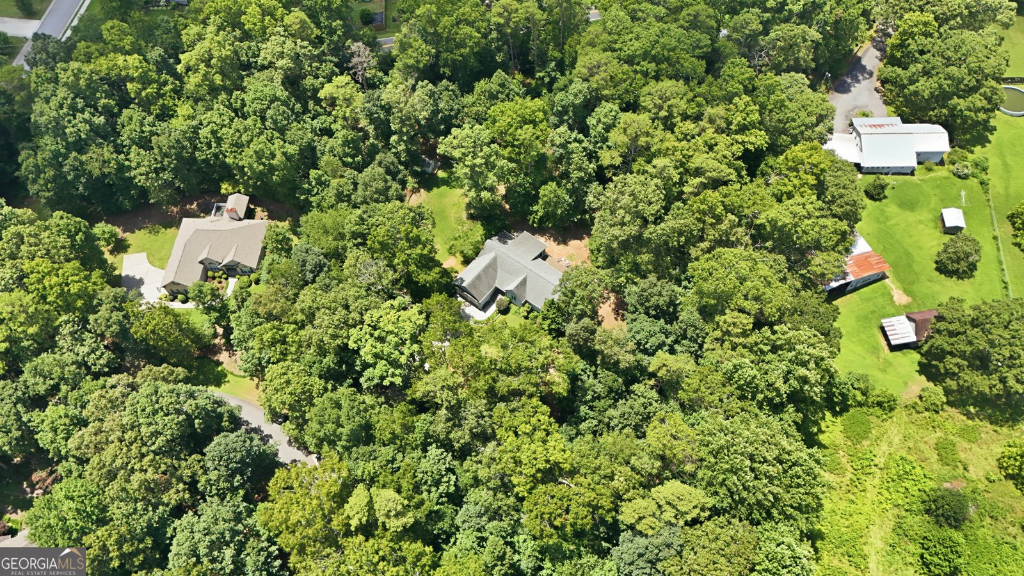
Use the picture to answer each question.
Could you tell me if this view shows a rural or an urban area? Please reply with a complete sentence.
The land in this view is best described as rural.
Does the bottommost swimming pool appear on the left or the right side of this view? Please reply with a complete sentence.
You can find the bottommost swimming pool on the right side of the picture.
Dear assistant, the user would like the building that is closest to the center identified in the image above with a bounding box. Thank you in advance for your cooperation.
[452,230,571,315]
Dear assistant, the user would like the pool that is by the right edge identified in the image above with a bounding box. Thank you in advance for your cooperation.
[994,85,1024,119]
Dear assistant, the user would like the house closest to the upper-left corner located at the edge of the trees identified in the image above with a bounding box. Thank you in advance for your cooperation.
[161,192,269,294]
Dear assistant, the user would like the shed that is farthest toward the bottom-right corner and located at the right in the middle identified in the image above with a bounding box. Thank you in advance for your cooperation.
[876,308,949,351]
